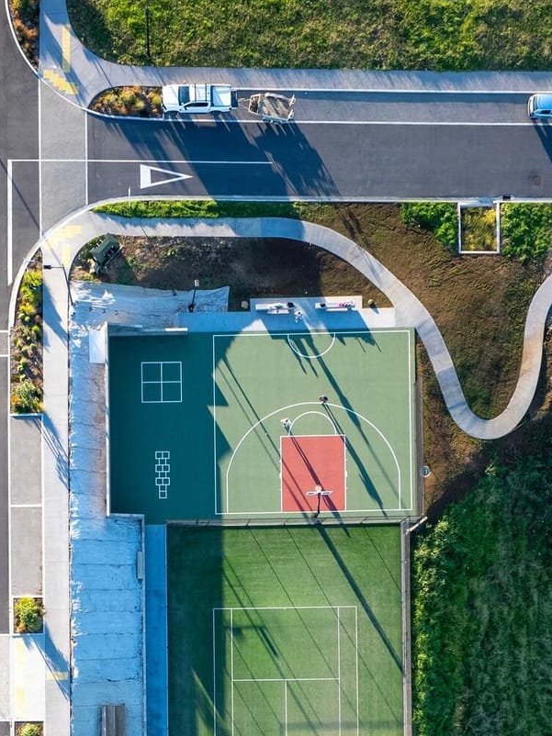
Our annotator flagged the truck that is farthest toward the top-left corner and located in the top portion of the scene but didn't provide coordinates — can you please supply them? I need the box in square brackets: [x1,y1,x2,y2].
[164,80,238,116]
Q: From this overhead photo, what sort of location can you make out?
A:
sports ground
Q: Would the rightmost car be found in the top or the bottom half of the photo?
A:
top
